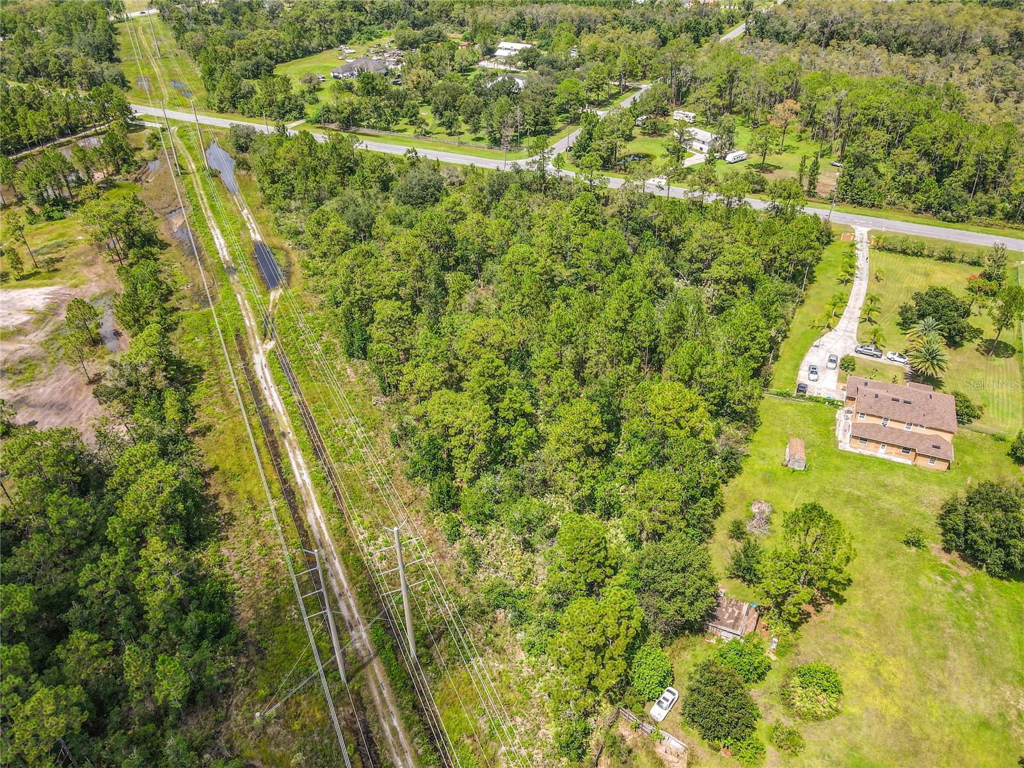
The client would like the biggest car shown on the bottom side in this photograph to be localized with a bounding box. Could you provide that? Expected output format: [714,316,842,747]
[650,685,684,722]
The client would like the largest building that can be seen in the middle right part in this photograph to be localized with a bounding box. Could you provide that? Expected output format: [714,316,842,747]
[843,372,960,473]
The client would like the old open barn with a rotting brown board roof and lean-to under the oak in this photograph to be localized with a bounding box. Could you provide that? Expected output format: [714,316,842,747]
[700,593,758,640]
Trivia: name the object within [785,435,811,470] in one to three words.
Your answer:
shed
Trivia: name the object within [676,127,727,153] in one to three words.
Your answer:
house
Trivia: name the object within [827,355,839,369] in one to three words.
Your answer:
vehicle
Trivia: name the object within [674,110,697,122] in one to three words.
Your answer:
vehicle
